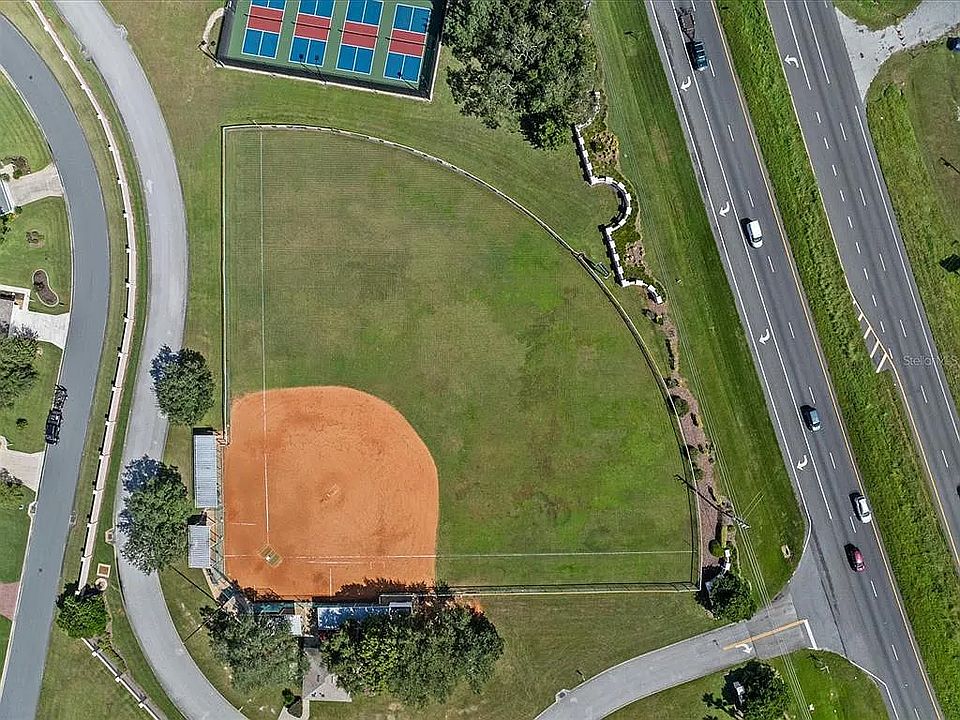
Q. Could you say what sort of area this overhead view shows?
sports ground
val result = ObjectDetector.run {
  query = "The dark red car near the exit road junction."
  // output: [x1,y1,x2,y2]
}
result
[848,546,864,572]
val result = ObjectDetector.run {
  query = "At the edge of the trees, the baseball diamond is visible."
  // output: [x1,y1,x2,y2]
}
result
[224,128,698,599]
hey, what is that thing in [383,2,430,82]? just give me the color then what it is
blue sports court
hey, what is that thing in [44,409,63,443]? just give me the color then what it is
black vehicle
